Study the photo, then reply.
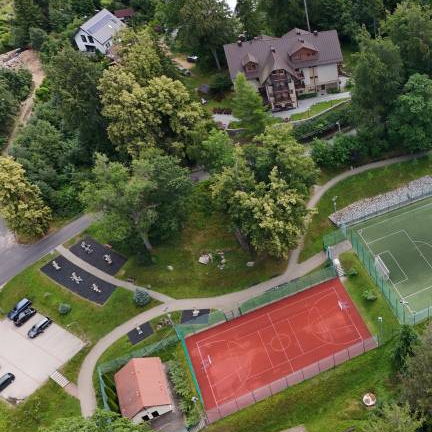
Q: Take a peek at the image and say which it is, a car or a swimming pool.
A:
car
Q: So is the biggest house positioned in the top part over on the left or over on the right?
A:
right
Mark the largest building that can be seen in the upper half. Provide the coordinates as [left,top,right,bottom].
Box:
[224,18,343,109]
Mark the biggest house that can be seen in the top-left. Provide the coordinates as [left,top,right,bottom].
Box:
[70,9,129,60]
